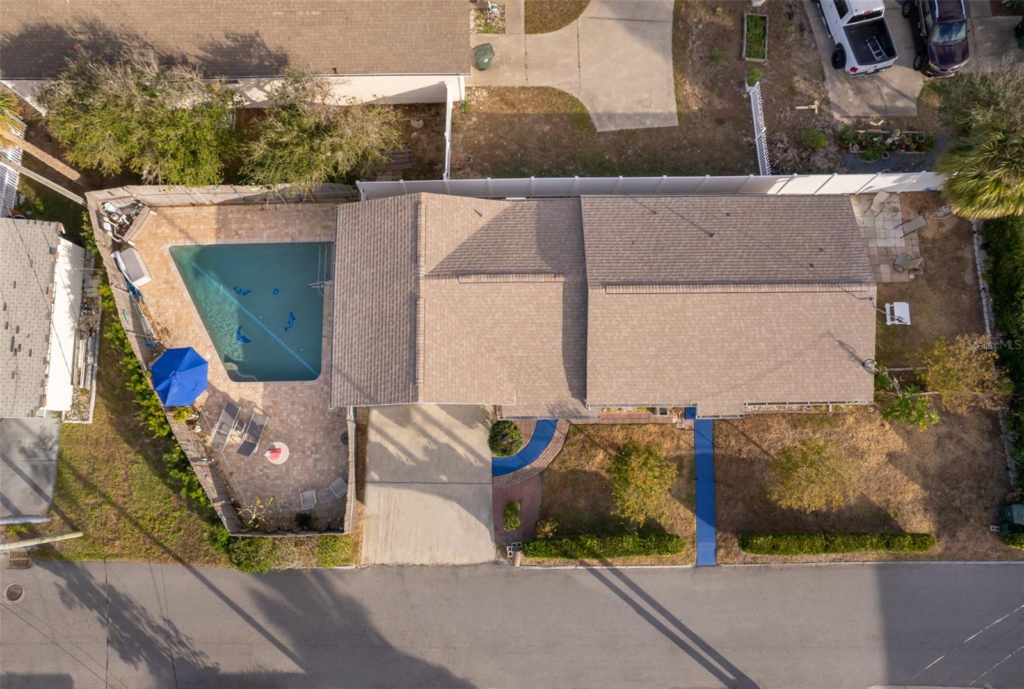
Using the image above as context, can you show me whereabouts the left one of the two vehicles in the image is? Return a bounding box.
[828,0,904,80]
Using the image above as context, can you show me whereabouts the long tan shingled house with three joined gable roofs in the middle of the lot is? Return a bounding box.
[326,191,875,424]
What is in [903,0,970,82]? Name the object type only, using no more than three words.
car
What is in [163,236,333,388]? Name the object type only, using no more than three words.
swimming pool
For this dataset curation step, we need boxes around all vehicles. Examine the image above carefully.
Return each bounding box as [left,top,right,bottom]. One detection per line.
[903,0,970,82]
[828,0,904,80]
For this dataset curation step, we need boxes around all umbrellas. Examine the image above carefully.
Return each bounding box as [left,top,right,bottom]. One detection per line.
[157,350,216,408]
